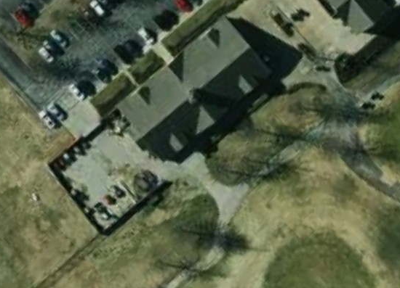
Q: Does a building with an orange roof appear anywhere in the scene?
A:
No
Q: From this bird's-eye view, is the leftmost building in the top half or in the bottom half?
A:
top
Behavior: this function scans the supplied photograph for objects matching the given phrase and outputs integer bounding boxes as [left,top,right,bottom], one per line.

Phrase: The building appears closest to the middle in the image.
[110,15,273,167]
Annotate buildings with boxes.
[318,0,400,36]
[110,15,273,167]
